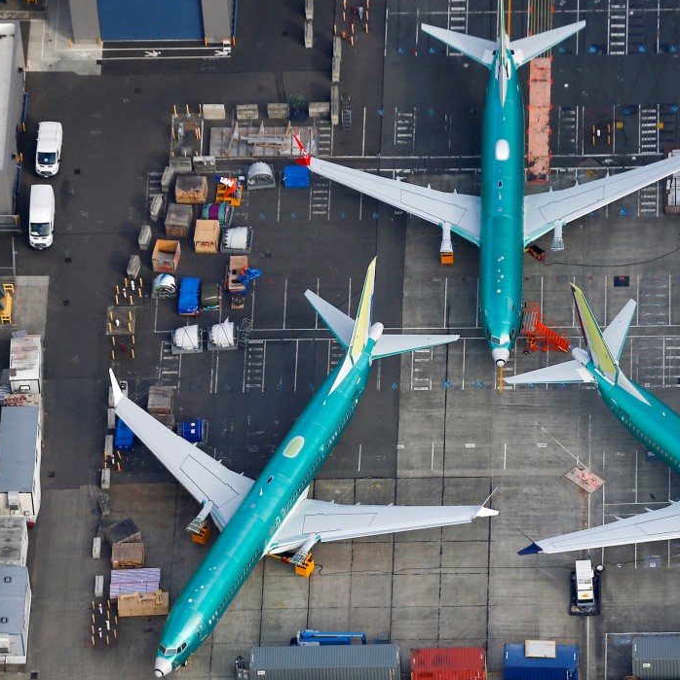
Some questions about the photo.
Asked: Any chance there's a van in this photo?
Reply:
Yes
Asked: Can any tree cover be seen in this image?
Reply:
No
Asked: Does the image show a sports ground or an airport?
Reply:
airport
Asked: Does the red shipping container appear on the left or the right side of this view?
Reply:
right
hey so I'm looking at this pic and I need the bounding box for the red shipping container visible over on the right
[412,647,488,680]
